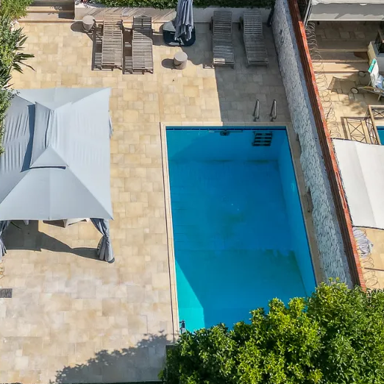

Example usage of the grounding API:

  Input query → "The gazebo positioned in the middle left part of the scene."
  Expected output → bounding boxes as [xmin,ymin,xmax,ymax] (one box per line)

[0,87,120,267]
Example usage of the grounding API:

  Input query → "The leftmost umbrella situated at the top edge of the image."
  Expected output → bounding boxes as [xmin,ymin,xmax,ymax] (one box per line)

[163,0,194,45]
